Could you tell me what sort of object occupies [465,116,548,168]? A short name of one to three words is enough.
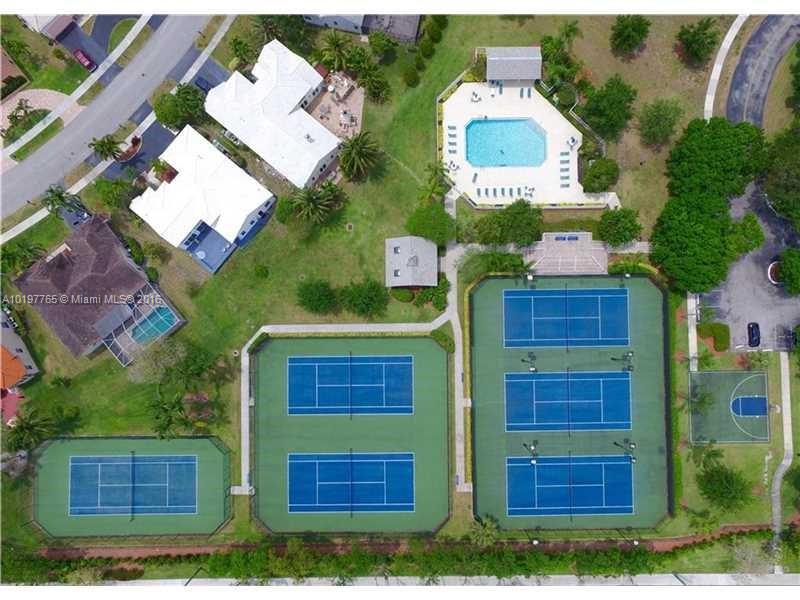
swimming pool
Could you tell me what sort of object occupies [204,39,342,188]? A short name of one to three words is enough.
house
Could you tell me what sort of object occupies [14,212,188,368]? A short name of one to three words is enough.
house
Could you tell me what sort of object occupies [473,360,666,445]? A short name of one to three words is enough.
tennis court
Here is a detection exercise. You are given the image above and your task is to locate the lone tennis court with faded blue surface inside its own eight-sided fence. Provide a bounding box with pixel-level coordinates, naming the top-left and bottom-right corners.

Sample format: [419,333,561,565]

[37,437,230,536]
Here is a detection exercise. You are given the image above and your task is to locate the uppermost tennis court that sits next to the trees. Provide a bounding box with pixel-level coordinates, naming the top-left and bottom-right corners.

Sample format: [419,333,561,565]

[472,277,665,360]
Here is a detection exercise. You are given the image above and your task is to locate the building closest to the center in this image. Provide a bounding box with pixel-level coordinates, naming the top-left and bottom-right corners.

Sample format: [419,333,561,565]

[387,235,437,286]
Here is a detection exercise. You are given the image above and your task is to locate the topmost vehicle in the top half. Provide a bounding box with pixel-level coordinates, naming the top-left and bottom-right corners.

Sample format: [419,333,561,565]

[74,50,99,74]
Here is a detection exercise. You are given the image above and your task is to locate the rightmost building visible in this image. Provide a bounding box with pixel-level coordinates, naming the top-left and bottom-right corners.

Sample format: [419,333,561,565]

[484,47,543,86]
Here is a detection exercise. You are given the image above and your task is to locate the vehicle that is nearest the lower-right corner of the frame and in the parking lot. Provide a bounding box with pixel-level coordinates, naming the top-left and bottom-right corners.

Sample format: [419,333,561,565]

[746,323,761,347]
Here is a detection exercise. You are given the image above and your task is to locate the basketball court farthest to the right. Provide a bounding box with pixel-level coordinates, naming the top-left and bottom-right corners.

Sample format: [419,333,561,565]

[690,372,770,443]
